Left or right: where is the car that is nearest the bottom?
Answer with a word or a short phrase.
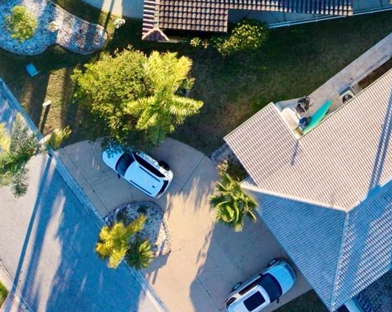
right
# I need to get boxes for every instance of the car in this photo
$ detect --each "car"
[101,142,176,203]
[223,259,297,312]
